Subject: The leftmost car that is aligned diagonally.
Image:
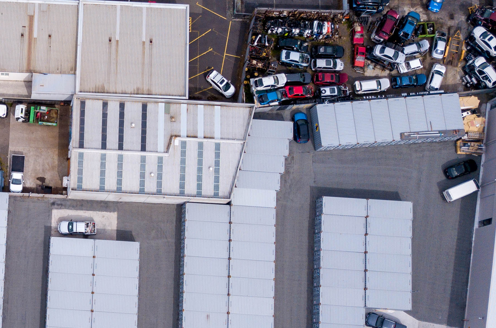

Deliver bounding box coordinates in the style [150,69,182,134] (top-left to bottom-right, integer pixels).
[204,70,239,100]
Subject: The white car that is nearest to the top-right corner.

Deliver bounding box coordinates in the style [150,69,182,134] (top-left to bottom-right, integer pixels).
[469,24,496,60]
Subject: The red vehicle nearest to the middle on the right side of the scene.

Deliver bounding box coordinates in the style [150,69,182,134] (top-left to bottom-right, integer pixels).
[283,83,314,97]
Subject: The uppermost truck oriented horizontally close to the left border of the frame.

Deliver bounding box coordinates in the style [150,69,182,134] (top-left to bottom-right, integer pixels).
[15,104,59,125]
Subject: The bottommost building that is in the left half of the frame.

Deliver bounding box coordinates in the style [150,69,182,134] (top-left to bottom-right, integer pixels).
[66,93,257,205]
